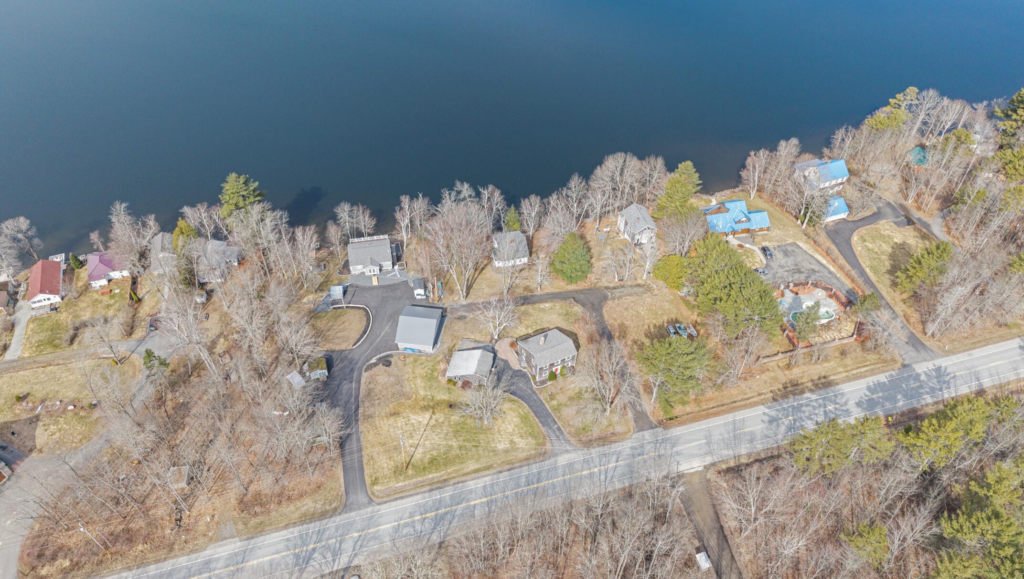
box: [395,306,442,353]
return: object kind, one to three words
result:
building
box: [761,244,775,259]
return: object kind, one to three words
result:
car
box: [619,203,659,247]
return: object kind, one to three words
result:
house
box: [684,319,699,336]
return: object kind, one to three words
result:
boat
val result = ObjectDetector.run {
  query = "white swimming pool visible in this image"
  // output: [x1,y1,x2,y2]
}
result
[790,299,836,325]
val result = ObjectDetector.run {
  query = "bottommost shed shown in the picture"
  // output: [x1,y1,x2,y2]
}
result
[693,550,716,575]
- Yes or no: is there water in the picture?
Yes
